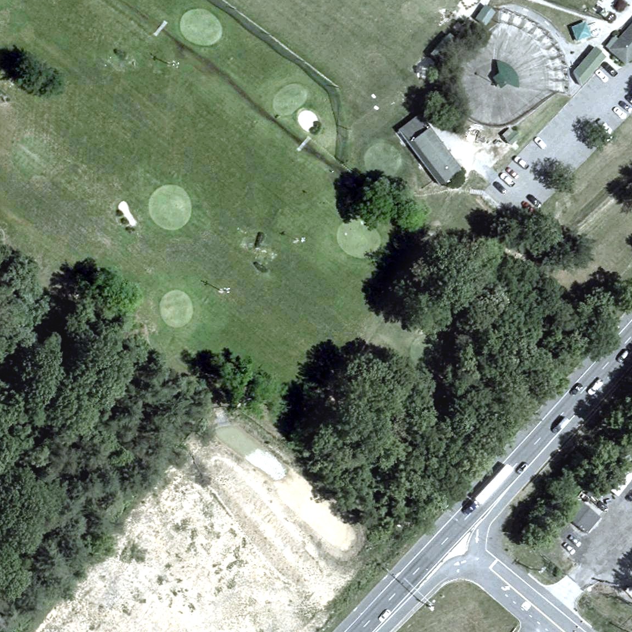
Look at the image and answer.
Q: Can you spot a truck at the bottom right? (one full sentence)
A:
Yes, a truck shows up at the bottom right.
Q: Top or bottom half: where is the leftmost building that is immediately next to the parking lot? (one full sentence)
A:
The leftmost building that is immediately next to the parking lot sits in the top half of the picture.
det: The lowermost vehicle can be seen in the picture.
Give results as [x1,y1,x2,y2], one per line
[381,607,395,621]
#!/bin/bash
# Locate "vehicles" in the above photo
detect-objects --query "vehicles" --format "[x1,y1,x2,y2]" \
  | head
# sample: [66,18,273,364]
[569,382,583,396]
[618,98,632,113]
[587,379,603,396]
[602,61,617,77]
[603,121,615,135]
[499,173,514,187]
[594,68,608,83]
[513,461,527,476]
[612,105,627,120]
[381,607,395,621]
[552,415,568,431]
[526,192,540,207]
[566,534,580,548]
[459,463,513,517]
[623,492,632,504]
[492,180,507,195]
[533,136,547,150]
[512,154,528,170]
[506,165,520,180]
[521,200,535,214]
